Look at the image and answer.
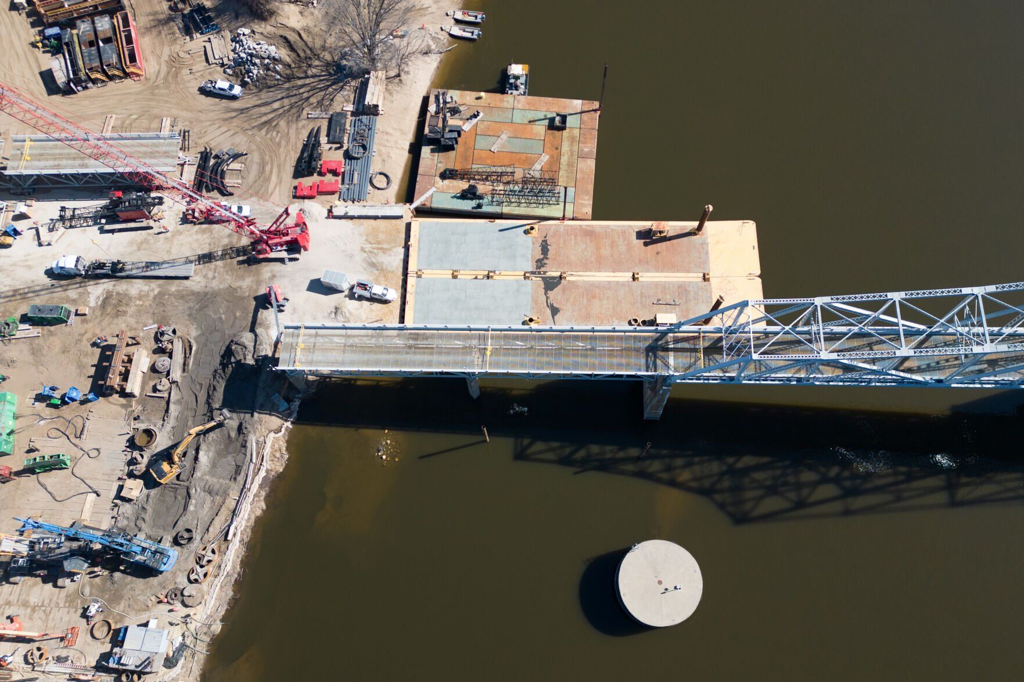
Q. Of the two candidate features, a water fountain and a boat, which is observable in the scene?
boat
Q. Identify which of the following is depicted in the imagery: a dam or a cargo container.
cargo container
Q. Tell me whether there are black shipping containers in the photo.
Yes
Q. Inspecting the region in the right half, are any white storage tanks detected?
No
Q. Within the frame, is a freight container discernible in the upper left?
Yes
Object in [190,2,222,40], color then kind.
black shipping container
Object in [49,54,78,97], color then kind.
white storage tank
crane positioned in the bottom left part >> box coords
[0,520,100,585]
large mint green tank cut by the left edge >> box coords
[0,392,28,457]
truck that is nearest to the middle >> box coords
[348,276,401,304]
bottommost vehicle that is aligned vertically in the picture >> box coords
[266,284,287,352]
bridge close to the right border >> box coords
[666,282,1024,392]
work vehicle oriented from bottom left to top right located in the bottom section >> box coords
[150,410,237,485]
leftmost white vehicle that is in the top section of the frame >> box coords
[50,254,87,276]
